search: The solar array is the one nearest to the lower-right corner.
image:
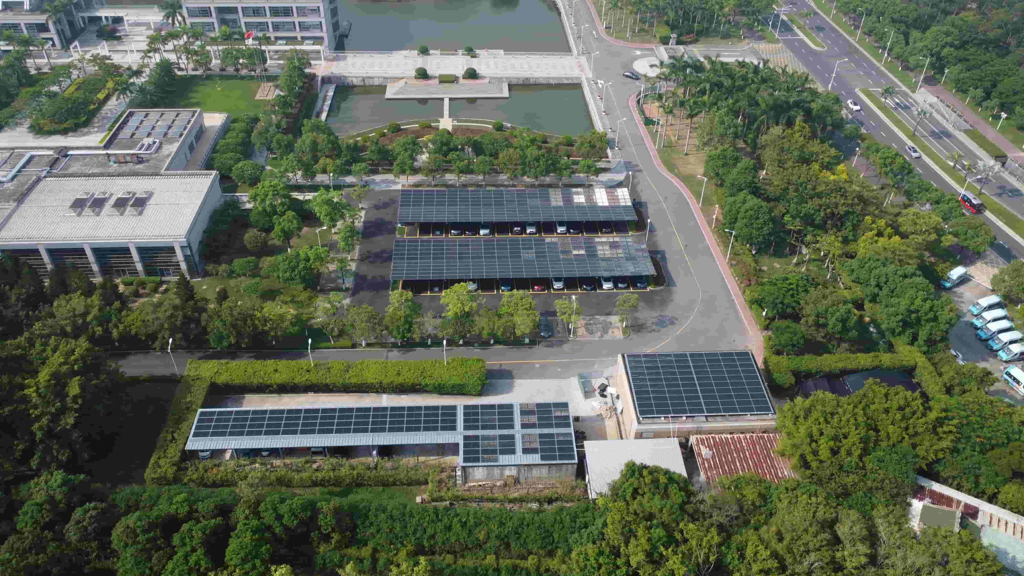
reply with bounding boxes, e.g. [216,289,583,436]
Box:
[624,351,776,418]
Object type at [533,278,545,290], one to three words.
vehicle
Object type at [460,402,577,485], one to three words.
shed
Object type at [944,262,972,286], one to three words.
vehicle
